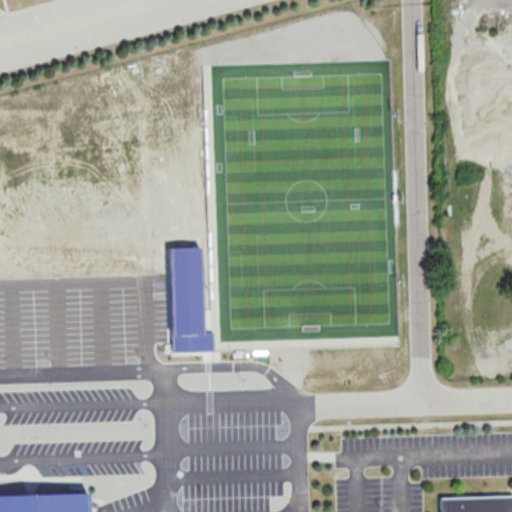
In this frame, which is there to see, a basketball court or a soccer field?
soccer field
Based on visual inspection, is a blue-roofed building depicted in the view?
Yes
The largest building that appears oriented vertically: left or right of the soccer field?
to the left of it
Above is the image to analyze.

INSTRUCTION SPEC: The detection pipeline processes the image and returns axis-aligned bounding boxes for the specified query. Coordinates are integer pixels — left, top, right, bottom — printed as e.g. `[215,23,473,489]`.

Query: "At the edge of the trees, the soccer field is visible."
[212,60,398,342]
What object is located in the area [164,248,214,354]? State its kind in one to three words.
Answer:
building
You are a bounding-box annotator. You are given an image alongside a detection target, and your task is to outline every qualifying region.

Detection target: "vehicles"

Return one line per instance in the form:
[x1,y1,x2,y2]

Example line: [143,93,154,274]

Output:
[448,205,452,217]
[417,20,425,72]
